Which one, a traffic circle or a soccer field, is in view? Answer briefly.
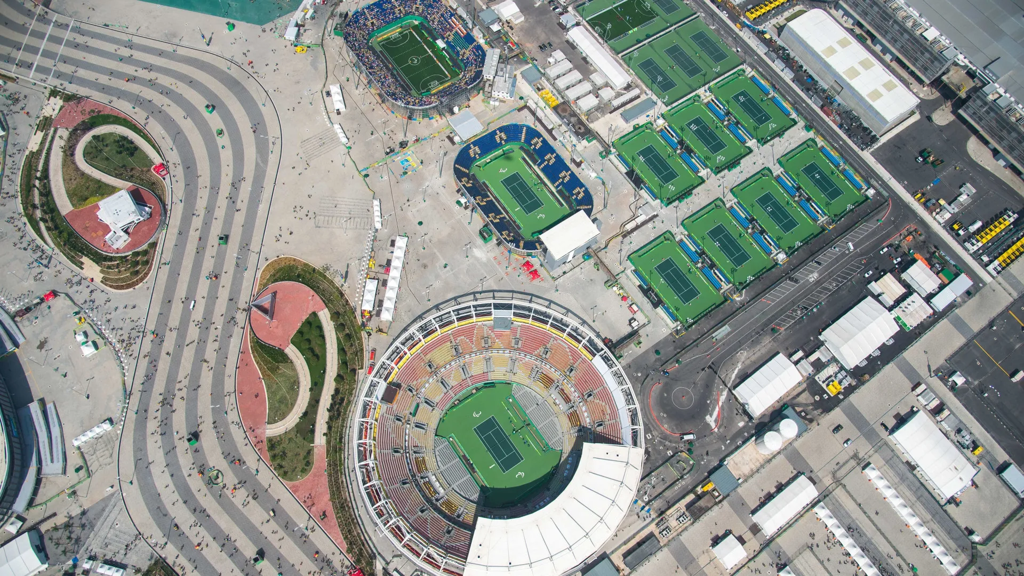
soccer field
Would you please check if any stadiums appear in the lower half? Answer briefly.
Yes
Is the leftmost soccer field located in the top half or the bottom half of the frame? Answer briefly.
top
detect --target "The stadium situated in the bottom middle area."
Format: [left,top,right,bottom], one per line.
[355,300,645,576]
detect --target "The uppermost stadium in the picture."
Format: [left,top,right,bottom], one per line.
[340,0,491,125]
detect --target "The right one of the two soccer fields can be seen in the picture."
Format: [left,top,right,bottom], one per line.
[586,0,658,42]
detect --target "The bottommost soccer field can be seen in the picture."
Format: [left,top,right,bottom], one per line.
[378,24,459,93]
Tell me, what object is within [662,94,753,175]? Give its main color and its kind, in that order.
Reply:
green tennis court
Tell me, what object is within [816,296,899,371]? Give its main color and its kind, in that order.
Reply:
white tent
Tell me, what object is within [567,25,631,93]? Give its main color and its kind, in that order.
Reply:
white tent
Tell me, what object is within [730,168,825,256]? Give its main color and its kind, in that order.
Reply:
green tennis court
